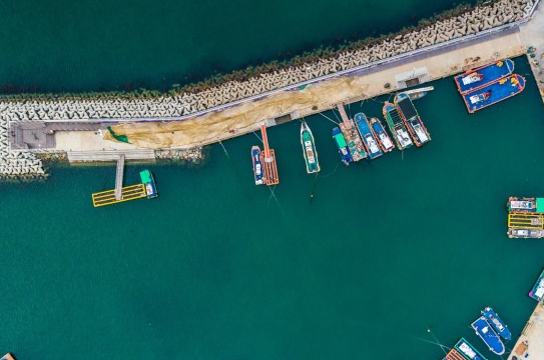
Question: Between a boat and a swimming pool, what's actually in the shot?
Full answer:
I can see a boat in this picture.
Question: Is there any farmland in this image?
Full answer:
No, the picture contains no farmland.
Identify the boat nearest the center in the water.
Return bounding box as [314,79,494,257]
[252,145,265,187]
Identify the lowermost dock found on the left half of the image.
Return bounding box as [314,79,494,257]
[91,184,148,208]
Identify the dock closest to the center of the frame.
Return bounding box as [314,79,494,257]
[262,148,280,186]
